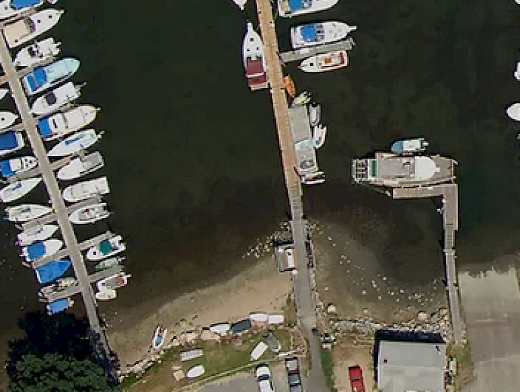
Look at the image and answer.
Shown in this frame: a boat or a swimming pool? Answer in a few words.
boat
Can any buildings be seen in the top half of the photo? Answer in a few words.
No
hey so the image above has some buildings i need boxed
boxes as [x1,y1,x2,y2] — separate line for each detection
[376,336,446,391]
[274,244,294,275]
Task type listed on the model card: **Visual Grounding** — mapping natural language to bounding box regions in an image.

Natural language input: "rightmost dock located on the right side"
[384,160,461,344]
